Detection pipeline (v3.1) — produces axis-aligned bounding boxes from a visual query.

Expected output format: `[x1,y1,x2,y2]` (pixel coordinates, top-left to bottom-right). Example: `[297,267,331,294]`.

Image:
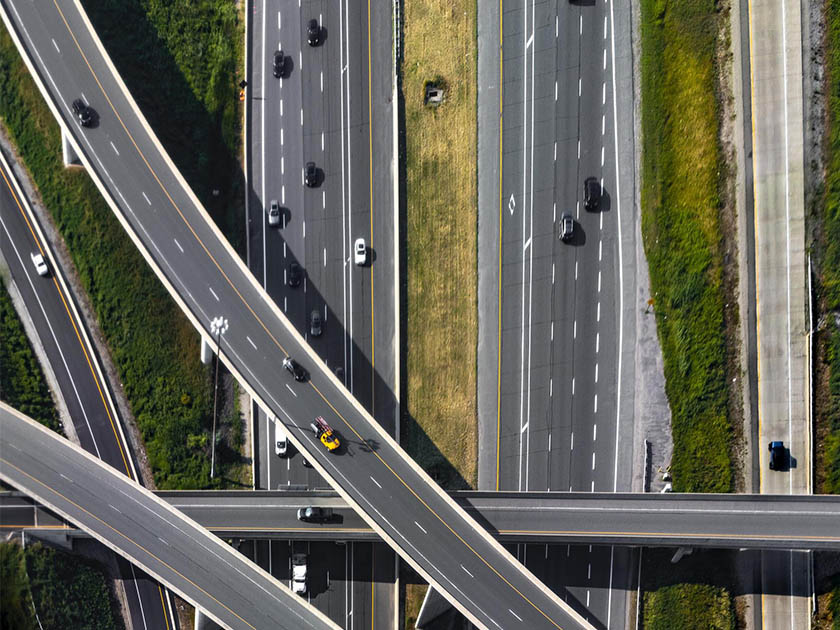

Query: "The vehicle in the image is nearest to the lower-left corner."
[293,555,307,591]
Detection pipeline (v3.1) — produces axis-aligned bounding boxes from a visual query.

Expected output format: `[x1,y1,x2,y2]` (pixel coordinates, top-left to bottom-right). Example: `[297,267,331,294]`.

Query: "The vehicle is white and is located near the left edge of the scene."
[30,248,48,277]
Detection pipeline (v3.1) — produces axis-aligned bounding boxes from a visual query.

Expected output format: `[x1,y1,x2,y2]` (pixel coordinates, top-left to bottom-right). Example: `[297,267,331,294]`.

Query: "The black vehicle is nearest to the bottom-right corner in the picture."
[769,441,786,471]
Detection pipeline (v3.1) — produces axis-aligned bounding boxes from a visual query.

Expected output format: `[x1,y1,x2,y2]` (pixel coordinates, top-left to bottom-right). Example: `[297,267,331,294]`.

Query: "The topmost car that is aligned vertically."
[307,20,320,46]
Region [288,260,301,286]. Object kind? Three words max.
vehicle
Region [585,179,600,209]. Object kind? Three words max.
car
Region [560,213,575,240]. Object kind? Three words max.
car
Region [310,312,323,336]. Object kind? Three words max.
vehicle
